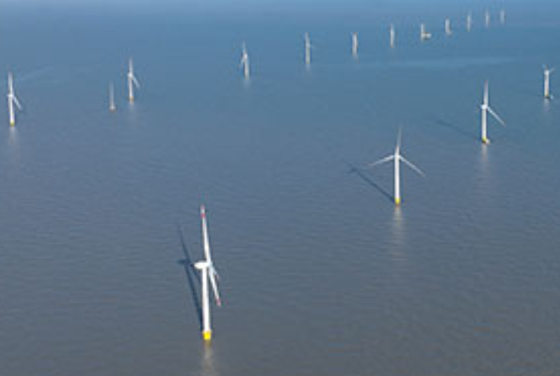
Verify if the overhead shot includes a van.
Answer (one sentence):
No, I can't see a single van in this photo.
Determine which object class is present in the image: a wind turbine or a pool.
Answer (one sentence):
Looking from above, you can make out a wind turbine.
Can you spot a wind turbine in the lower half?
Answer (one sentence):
Yes, you'll find a wind turbine in the lower half.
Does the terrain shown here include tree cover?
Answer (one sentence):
No, there is no tree cover in the image.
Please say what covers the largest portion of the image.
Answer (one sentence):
For the most part, this view shows water.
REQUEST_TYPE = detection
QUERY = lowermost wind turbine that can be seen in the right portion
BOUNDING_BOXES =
[371,123,425,203]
